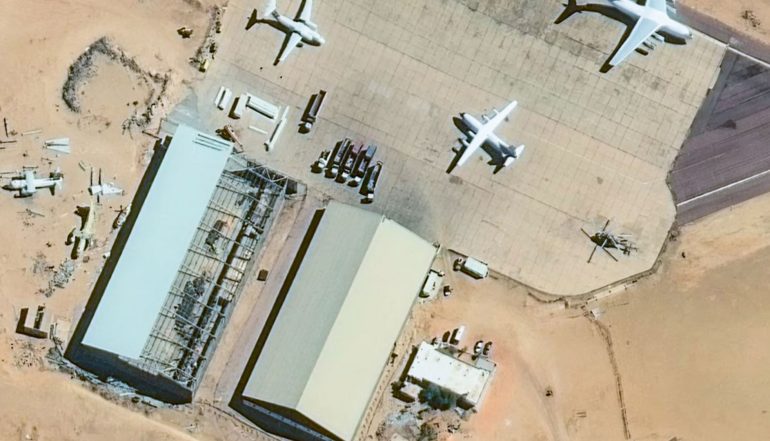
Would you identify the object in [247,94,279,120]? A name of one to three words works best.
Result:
shipping container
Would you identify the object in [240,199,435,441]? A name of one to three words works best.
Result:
hangar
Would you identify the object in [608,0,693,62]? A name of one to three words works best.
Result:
airplane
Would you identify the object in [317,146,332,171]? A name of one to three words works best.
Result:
vehicle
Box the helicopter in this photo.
[587,212,636,256]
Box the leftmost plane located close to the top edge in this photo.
[267,0,325,59]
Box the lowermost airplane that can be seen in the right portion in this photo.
[458,97,526,168]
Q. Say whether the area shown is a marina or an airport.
airport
